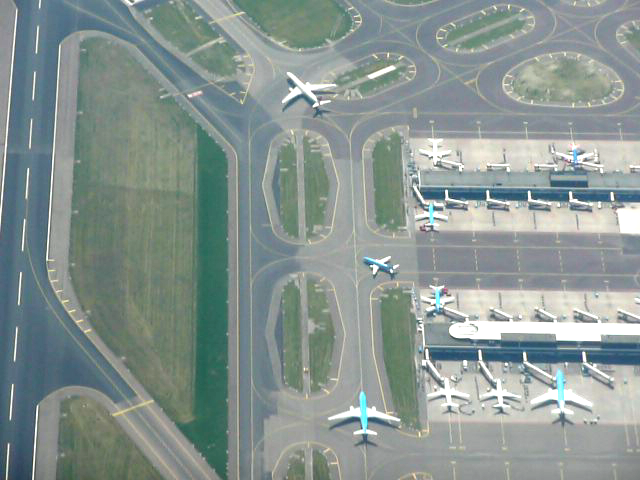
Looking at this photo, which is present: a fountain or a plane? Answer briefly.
plane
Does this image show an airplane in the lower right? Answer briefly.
Yes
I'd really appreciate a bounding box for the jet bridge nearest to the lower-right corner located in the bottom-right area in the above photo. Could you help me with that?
[582,352,614,384]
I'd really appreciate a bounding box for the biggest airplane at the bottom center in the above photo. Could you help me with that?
[329,391,399,434]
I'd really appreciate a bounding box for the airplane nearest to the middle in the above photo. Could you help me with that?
[366,258,399,276]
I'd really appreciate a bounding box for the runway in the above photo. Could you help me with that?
[0,0,243,480]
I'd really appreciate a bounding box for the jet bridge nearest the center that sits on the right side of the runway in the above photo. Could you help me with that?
[412,178,427,207]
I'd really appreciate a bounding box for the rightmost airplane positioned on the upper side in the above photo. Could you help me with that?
[554,143,595,171]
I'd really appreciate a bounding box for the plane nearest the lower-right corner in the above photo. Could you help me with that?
[531,370,592,413]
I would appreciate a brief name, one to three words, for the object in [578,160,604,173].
jet bridge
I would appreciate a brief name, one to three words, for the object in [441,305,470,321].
jet bridge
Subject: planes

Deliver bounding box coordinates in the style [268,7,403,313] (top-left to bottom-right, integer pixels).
[419,139,450,166]
[428,379,468,408]
[366,258,399,276]
[421,281,454,313]
[531,370,592,413]
[554,143,595,171]
[416,204,447,227]
[480,380,521,409]
[329,391,399,434]
[278,74,334,108]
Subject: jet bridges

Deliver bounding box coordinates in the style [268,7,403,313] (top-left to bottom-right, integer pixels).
[569,192,593,210]
[571,308,602,323]
[486,191,511,209]
[478,351,498,385]
[610,193,622,209]
[522,351,558,383]
[439,158,464,171]
[527,192,552,209]
[534,306,558,322]
[616,308,640,322]
[534,163,559,172]
[412,178,427,207]
[425,350,446,383]
[441,305,470,321]
[629,165,640,174]
[489,306,514,322]
[486,163,511,172]
[582,352,614,384]
[578,160,604,173]
[444,191,469,209]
